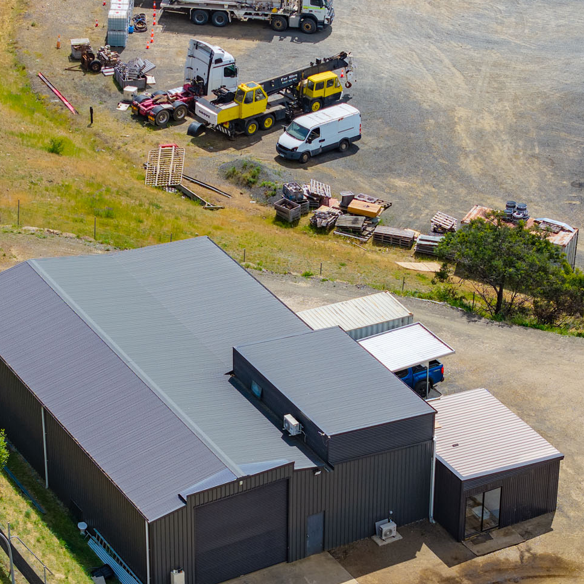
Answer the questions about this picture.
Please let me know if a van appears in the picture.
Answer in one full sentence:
Yes, looking at the shot, I can spot a van.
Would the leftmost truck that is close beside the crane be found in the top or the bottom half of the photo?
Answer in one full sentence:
You can find the leftmost truck that is close beside the crane in the top half.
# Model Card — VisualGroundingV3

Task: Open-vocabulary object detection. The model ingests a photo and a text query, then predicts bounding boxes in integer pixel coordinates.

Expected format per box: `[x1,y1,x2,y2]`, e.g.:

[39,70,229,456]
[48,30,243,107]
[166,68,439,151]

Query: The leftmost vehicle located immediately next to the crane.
[126,36,238,126]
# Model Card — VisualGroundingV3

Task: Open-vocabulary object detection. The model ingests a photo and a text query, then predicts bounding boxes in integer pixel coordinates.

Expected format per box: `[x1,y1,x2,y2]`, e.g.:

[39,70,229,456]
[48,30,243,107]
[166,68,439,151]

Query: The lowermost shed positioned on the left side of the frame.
[0,238,440,584]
